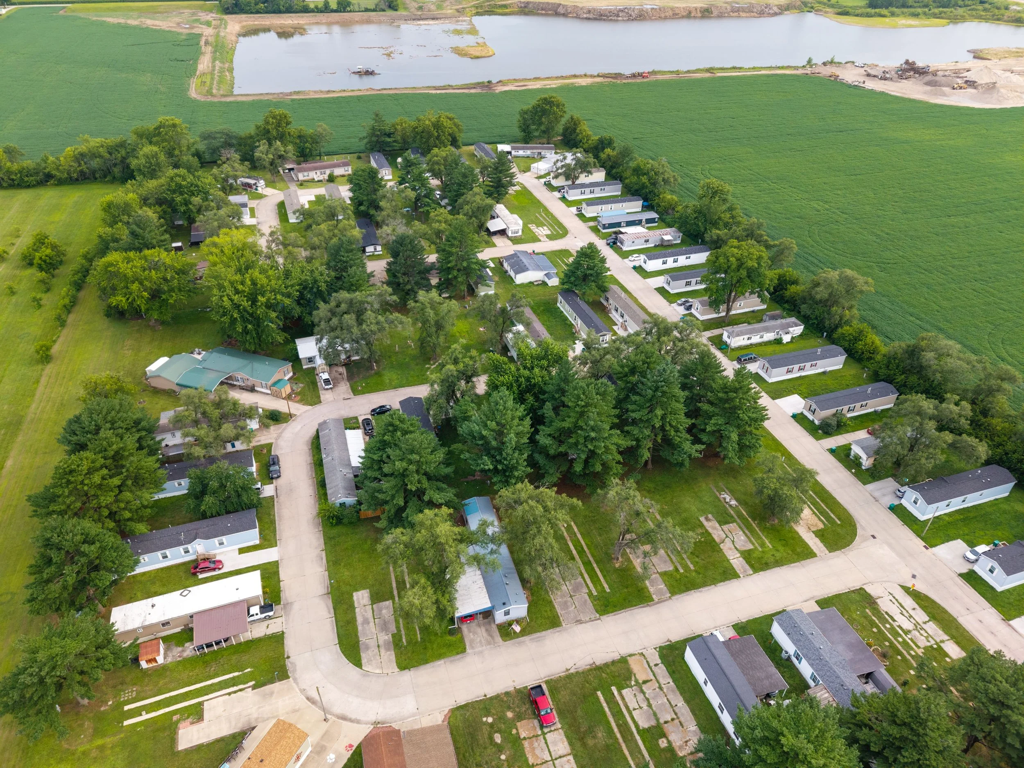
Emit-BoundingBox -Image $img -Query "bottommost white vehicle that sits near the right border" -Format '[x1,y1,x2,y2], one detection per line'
[964,540,991,566]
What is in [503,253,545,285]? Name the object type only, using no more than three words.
house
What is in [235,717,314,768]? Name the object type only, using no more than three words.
shed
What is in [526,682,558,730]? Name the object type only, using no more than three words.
truck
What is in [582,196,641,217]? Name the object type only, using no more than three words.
house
